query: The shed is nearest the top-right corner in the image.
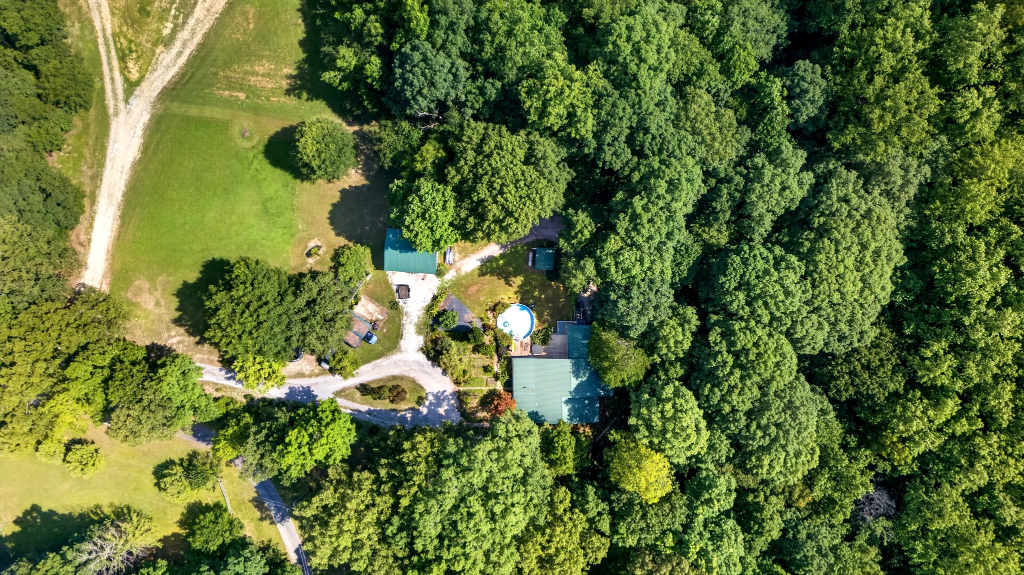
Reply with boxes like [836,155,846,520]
[534,247,554,270]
